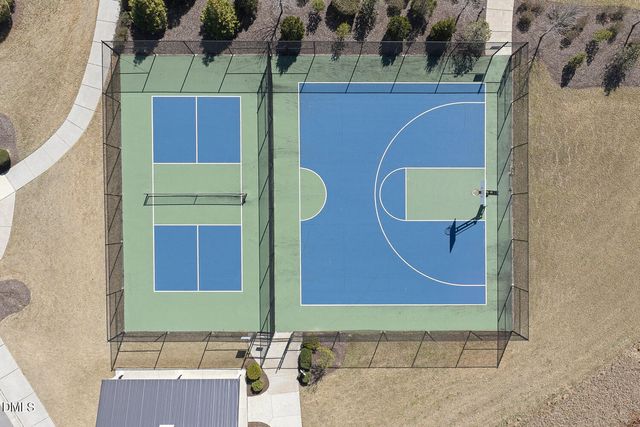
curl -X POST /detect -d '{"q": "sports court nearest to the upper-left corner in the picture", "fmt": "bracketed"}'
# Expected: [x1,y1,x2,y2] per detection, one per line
[120,54,275,332]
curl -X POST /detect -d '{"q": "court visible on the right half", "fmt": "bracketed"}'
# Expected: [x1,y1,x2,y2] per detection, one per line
[272,54,513,332]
